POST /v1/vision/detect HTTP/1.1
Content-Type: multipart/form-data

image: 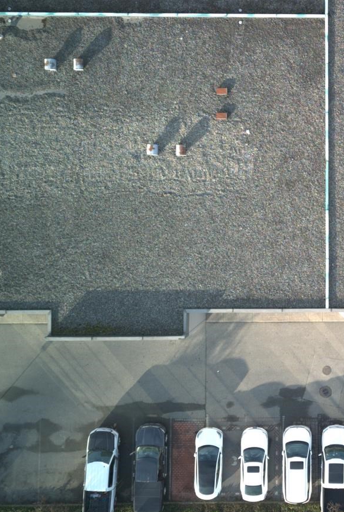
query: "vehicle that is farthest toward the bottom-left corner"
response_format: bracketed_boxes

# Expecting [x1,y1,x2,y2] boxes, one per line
[80,423,122,512]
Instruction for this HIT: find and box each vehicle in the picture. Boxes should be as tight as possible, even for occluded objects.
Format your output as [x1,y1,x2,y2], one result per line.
[317,421,344,512]
[237,423,273,500]
[131,421,170,512]
[278,422,315,504]
[80,423,122,512]
[190,423,226,499]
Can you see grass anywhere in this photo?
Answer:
No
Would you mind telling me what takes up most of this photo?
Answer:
buildings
